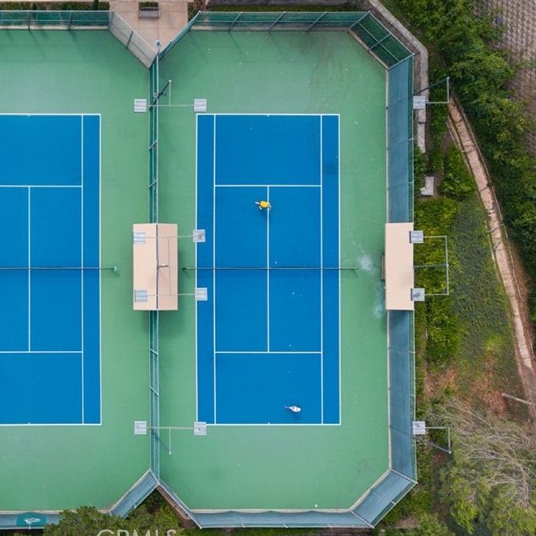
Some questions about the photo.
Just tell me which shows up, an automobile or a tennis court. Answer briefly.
tennis court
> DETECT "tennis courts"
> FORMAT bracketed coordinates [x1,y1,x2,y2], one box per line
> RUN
[149,31,387,507]
[0,31,150,509]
